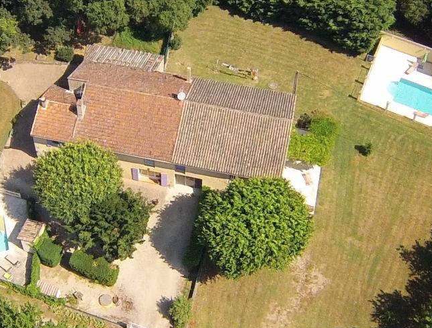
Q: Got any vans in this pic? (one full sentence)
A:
No, there isn't any van down there.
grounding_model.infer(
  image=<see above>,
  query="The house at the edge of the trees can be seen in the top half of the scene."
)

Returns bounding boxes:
[29,44,297,201]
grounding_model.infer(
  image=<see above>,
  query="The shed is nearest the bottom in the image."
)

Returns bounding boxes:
[17,218,45,252]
